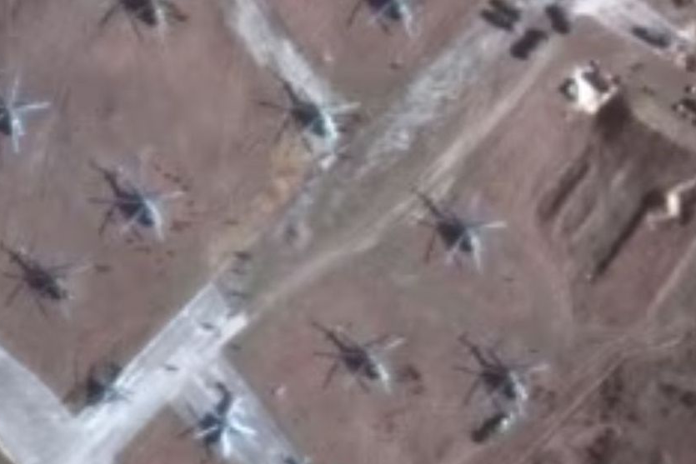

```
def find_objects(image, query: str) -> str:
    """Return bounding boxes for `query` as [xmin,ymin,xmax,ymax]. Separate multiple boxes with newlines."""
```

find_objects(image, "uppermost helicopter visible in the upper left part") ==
[120,0,162,33]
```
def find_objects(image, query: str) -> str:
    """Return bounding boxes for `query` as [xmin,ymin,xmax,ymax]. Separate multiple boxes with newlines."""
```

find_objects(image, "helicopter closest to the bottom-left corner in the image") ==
[83,355,142,422]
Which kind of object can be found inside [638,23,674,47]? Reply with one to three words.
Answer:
truck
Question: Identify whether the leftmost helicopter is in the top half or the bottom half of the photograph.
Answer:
top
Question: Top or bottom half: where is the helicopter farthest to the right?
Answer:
bottom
